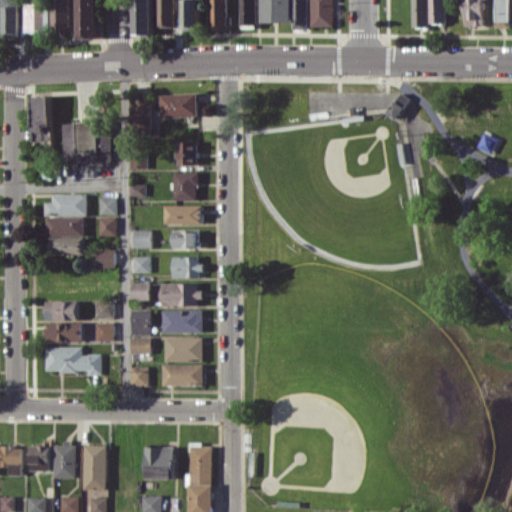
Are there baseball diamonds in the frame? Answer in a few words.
Yes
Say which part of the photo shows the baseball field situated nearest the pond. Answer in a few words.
bottom right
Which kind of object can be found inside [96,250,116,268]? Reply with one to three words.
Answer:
building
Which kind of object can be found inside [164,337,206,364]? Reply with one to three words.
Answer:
house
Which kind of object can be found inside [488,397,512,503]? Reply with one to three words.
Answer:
pond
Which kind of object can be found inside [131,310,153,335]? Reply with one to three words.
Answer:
building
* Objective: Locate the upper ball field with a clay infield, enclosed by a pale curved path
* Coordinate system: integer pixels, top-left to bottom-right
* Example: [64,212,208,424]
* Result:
[252,118,416,266]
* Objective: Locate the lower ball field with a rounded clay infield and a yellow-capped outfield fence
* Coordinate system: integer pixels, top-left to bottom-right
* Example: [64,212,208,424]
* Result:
[252,264,494,512]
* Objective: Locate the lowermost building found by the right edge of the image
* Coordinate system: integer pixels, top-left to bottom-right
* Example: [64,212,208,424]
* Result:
[476,133,500,156]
